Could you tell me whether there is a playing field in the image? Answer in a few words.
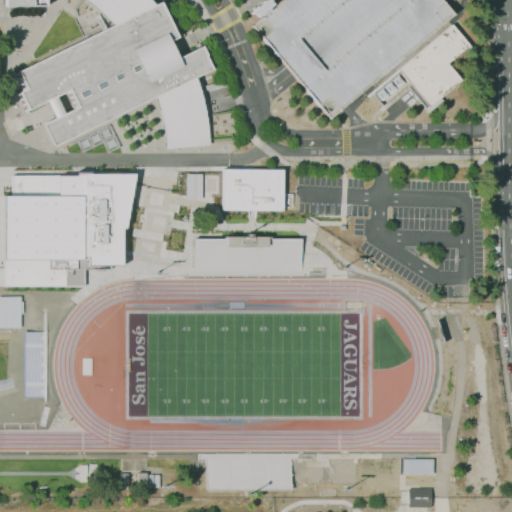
Yes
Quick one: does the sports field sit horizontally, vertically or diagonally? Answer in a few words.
horizontally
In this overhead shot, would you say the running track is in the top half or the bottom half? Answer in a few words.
bottom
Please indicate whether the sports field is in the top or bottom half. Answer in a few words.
bottom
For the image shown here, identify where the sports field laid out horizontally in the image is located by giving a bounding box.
[125,310,364,419]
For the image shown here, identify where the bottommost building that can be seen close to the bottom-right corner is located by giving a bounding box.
[410,488,433,508]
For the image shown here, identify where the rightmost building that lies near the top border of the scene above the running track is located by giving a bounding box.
[401,25,472,112]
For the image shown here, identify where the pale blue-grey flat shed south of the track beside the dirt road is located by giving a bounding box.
[403,459,436,475]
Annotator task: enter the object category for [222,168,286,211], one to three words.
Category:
building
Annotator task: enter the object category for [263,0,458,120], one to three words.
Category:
building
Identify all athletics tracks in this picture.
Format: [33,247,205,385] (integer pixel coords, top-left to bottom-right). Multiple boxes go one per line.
[0,280,442,451]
